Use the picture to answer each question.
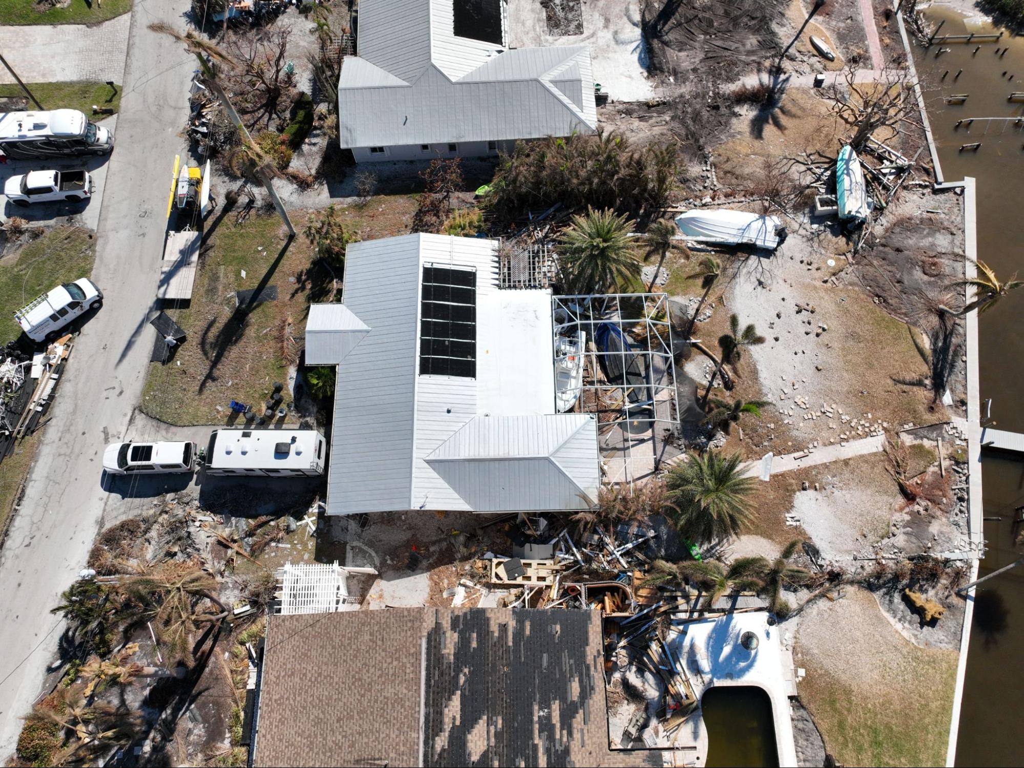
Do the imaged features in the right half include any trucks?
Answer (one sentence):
No, I see no truck in the right half.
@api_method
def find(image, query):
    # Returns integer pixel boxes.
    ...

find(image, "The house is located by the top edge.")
[337,0,599,164]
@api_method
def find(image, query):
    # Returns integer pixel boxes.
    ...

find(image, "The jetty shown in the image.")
[979,418,1024,454]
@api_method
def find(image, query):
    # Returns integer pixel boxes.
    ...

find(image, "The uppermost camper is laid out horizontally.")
[0,107,119,165]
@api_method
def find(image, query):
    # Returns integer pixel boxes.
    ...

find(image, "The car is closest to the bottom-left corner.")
[101,433,209,475]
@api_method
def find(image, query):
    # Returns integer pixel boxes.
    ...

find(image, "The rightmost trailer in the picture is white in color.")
[209,429,330,479]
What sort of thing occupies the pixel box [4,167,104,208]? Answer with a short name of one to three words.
truck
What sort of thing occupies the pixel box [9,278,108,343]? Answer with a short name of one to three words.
van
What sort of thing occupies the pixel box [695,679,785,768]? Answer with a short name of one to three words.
swimming pool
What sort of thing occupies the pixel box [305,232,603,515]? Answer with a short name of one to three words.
house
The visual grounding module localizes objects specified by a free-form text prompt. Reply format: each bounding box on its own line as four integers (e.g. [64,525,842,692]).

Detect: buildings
[250,610,702,768]
[337,0,599,164]
[305,232,603,515]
